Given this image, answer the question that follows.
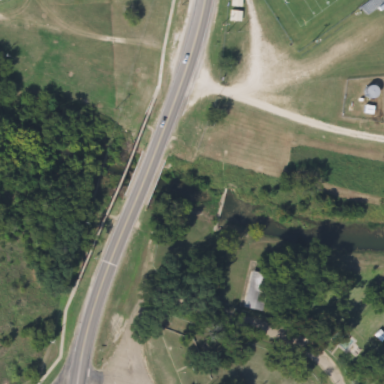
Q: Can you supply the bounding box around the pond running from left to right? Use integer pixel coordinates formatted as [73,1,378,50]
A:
[216,190,384,253]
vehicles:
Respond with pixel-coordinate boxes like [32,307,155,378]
[183,54,189,64]
[160,118,166,128]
